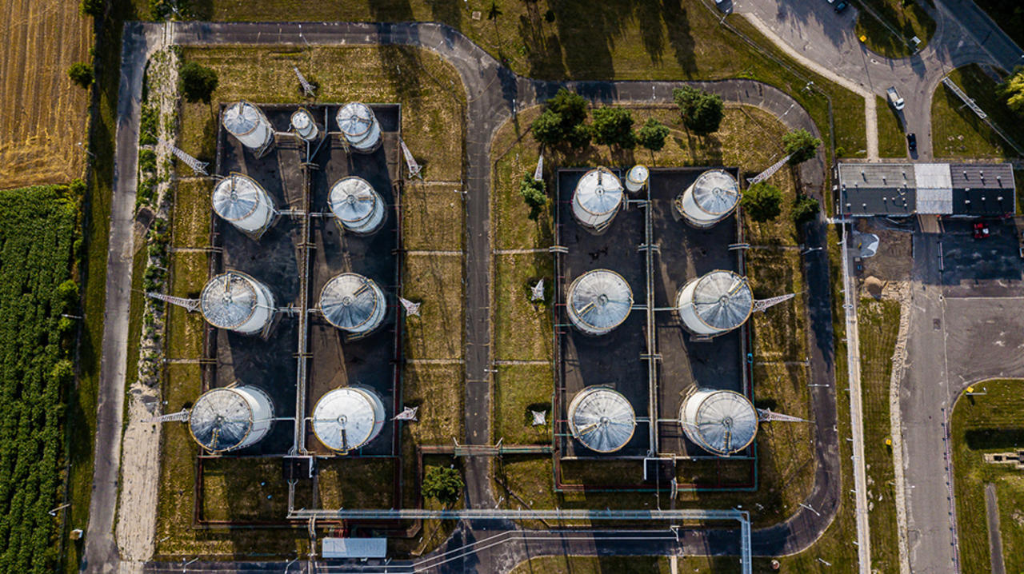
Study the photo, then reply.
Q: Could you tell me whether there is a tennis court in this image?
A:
No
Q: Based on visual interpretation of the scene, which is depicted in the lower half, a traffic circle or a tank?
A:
tank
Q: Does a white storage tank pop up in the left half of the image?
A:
Yes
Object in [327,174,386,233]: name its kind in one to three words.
storage tank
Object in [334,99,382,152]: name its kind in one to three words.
storage tank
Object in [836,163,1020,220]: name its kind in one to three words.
building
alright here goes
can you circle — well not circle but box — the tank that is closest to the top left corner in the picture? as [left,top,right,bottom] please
[221,96,277,154]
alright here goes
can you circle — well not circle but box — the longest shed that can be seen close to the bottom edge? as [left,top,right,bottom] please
[321,535,388,560]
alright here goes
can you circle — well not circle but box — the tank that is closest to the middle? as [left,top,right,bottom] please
[567,269,635,335]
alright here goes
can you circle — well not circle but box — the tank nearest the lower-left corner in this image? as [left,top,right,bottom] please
[186,386,274,457]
